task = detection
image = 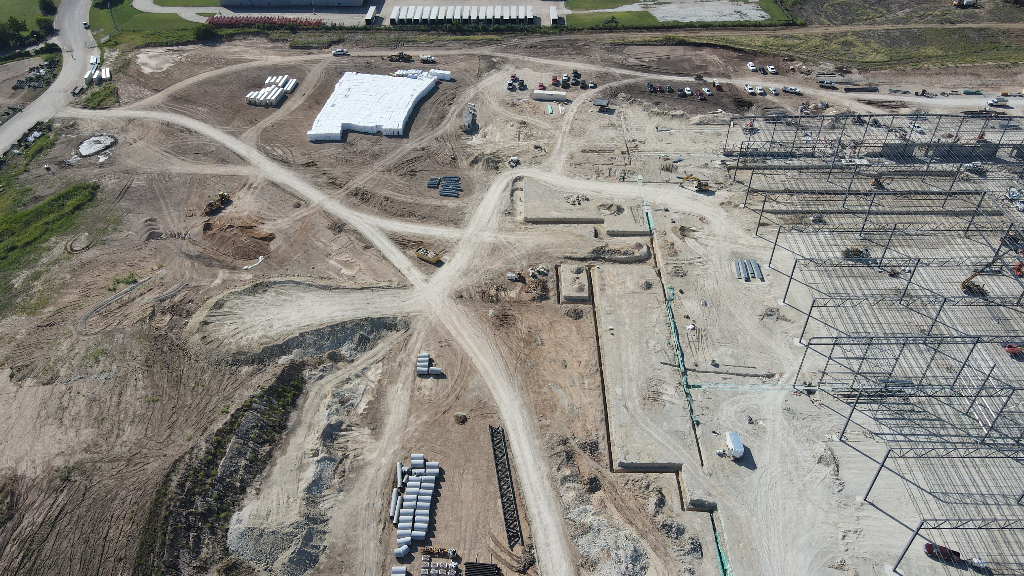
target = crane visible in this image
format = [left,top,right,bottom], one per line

[954,215,1024,302]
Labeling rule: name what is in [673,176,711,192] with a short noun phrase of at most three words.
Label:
work vehicle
